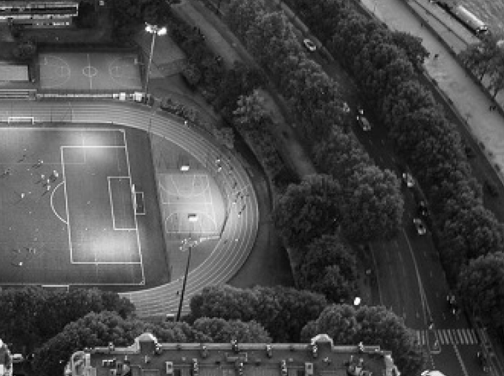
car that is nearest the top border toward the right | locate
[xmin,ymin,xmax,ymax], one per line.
[303,37,316,49]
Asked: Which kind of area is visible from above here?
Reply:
sports ground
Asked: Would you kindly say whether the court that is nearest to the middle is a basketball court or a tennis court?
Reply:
basketball court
